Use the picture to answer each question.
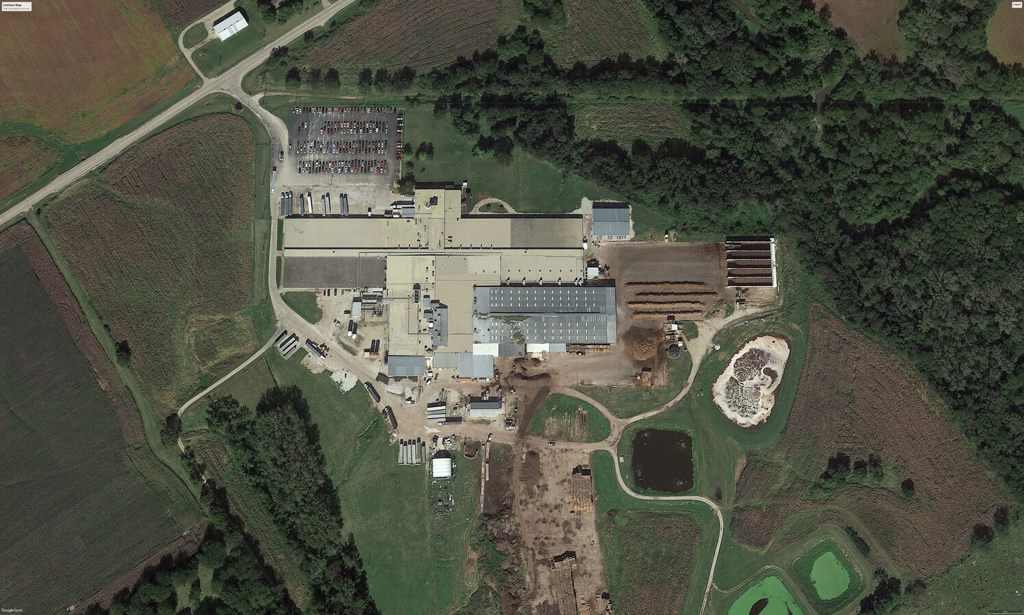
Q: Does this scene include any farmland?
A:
Yes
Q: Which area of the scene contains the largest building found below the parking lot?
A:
center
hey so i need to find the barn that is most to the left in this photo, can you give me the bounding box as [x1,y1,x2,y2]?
[213,11,248,41]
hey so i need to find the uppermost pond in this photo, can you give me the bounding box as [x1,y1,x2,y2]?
[712,335,790,429]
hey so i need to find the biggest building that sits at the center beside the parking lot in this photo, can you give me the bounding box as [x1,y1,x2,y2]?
[284,189,583,355]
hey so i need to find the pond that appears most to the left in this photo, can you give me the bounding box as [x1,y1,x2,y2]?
[631,429,694,492]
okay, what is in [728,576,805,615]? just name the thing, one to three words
pond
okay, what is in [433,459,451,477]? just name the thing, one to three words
building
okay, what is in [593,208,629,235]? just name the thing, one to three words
building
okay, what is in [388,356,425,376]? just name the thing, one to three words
shed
